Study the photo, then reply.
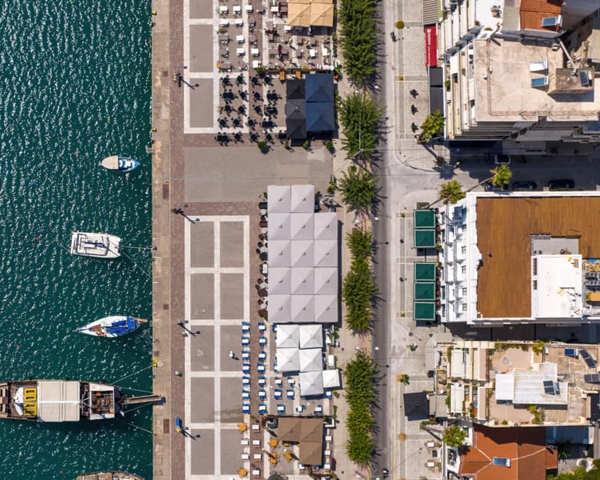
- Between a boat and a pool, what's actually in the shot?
boat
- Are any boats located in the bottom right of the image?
No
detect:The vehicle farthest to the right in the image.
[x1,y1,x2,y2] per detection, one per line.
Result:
[547,175,580,190]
